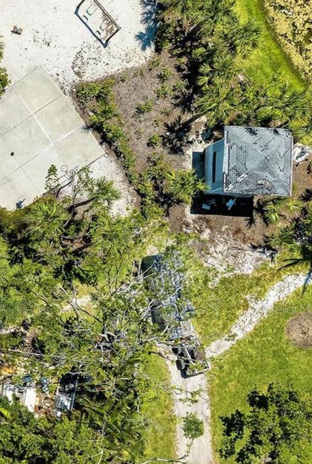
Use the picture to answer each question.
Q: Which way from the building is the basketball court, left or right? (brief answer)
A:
left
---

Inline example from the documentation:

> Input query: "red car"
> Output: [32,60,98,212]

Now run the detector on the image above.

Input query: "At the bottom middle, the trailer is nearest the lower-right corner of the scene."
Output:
[166,332,208,378]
